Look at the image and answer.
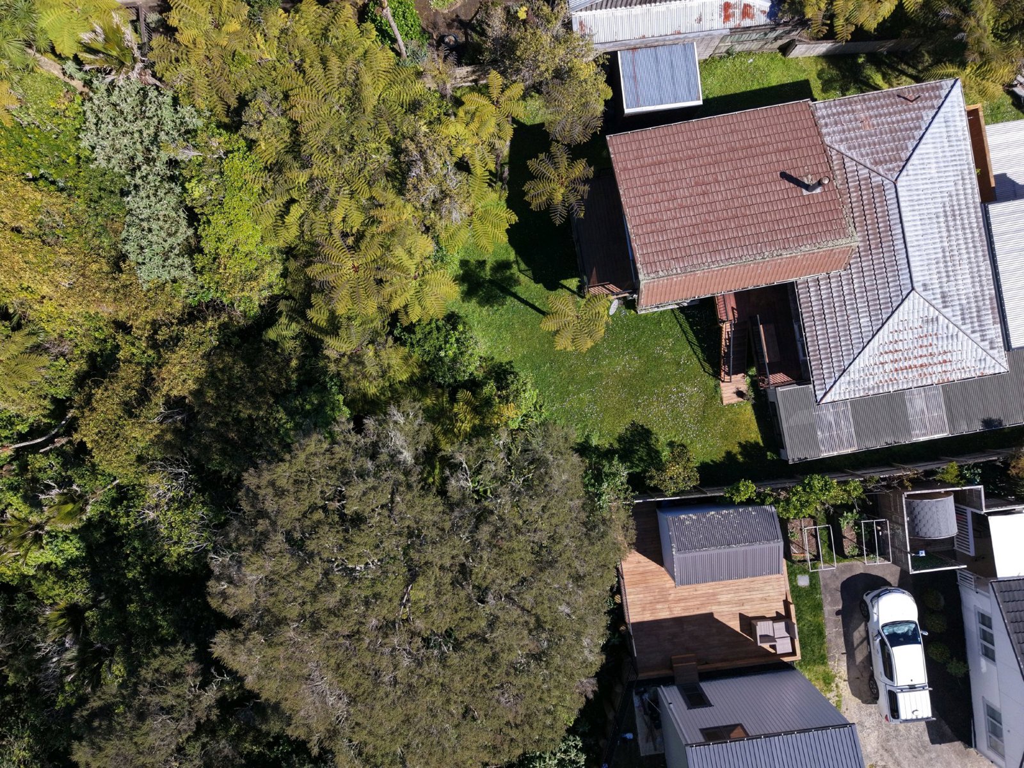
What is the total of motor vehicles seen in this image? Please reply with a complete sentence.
The picture shows just 1 motor vehicle.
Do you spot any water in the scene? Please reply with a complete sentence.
No, water can't be seen anywhere here.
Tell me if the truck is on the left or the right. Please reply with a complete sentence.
The truck is on the right side of the image.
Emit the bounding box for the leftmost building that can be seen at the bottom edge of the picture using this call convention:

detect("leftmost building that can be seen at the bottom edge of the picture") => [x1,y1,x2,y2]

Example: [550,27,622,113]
[653,662,865,768]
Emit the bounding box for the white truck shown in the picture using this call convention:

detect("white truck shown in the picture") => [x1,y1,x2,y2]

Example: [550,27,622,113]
[861,583,945,730]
